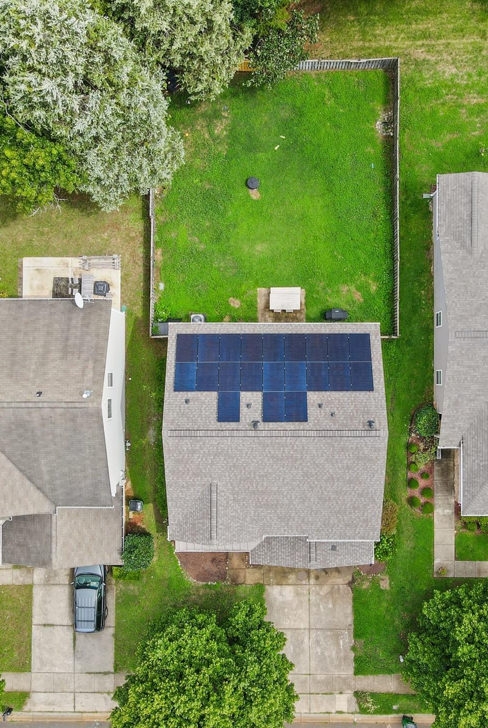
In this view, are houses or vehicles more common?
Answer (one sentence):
Counting both kinds, the houses come out ahead of the vehicles.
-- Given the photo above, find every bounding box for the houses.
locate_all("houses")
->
[433,172,488,516]
[0,284,128,569]
[162,321,387,569]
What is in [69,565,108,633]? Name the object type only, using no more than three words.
car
